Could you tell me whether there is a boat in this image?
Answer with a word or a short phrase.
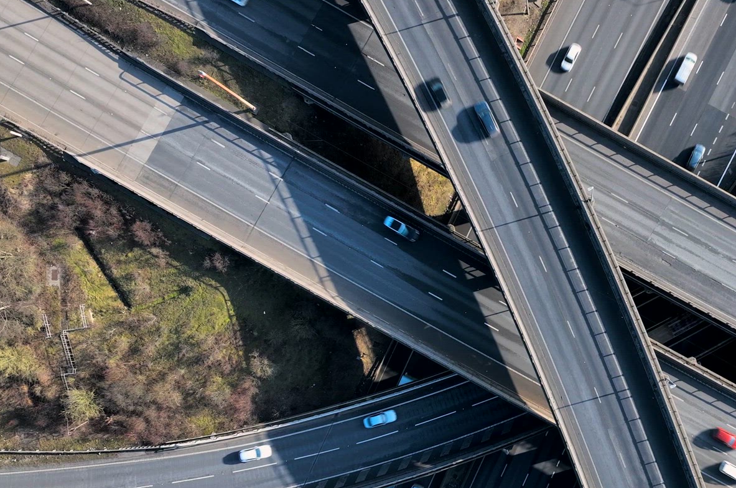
No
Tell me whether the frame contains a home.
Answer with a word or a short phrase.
No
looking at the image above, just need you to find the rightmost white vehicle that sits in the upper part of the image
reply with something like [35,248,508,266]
[673,51,698,86]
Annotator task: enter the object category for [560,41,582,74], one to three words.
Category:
car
